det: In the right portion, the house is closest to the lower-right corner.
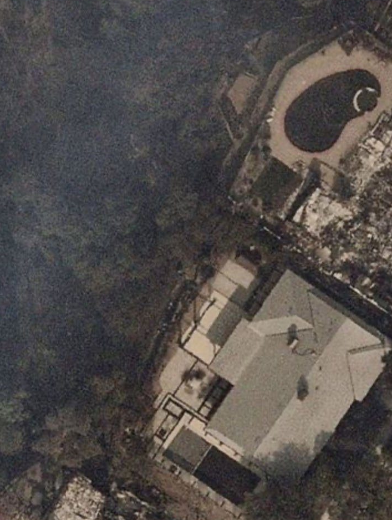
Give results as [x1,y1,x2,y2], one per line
[204,270,390,486]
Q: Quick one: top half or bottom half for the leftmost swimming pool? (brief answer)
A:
bottom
